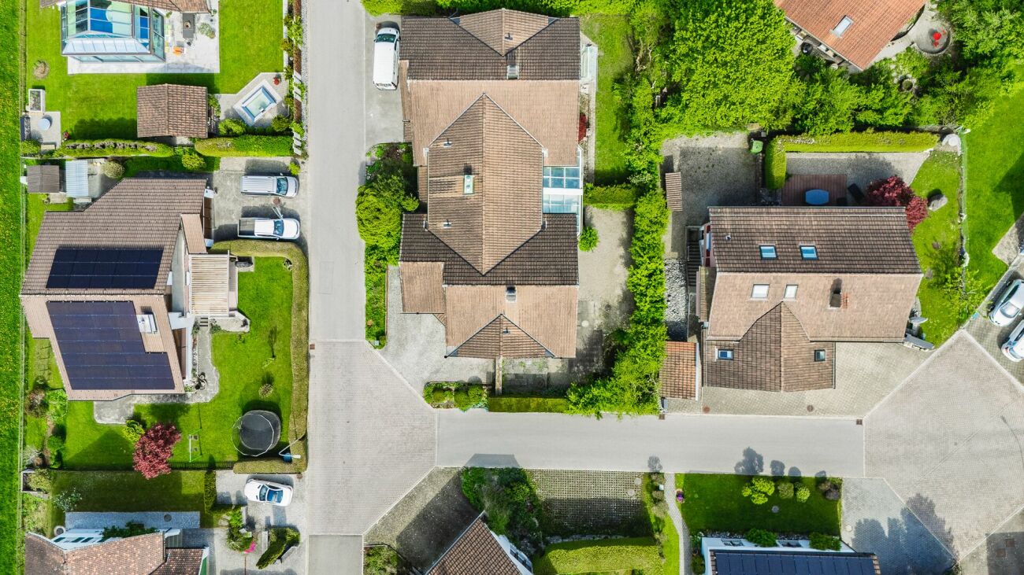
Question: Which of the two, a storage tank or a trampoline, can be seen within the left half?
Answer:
trampoline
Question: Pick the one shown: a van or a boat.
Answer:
van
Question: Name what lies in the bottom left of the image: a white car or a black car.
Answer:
white car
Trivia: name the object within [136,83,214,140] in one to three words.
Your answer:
building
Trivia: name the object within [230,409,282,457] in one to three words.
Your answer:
trampoline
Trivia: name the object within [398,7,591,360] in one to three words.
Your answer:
house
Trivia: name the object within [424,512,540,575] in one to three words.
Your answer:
house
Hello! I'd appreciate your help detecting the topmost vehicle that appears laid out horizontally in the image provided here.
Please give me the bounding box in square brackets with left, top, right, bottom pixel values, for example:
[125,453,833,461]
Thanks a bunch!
[234,171,299,201]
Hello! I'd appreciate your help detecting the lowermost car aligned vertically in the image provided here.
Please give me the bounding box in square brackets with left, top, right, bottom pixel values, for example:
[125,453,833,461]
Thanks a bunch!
[1001,310,1024,364]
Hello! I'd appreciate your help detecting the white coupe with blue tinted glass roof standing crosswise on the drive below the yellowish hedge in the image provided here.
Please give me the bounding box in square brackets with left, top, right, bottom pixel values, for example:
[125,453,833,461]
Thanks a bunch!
[243,476,297,506]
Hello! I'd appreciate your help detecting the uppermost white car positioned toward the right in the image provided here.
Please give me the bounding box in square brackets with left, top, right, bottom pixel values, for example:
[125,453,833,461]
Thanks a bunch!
[990,269,1024,325]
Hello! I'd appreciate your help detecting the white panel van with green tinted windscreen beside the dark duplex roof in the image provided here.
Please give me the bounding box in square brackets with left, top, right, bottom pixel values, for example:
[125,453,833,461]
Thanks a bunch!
[370,27,401,91]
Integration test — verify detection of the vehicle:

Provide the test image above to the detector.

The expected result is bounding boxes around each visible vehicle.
[243,476,297,506]
[370,27,401,91]
[234,171,299,201]
[990,269,1024,325]
[1001,310,1024,364]
[233,203,303,242]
